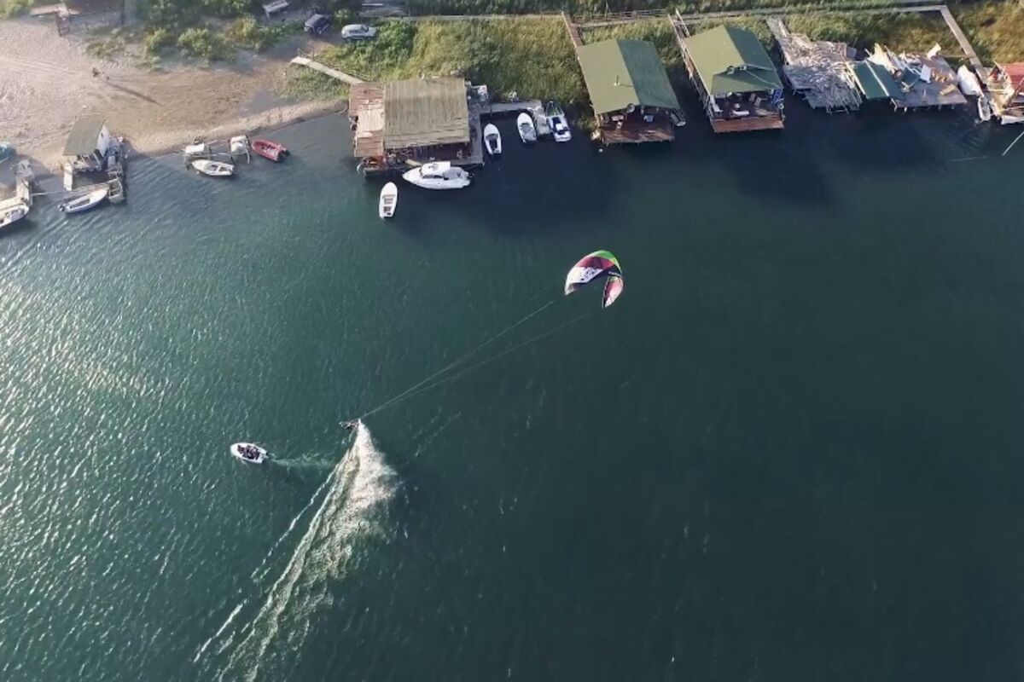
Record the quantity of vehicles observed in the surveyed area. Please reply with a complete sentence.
The picture shows 2 vehicles.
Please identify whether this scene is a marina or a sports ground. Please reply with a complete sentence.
It's a marina.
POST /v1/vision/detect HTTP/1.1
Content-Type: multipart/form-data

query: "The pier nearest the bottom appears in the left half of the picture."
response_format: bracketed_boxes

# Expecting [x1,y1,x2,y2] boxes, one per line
[13,176,32,205]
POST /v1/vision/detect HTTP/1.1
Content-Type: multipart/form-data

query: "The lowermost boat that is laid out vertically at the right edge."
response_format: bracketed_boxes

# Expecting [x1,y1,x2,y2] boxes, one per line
[977,94,990,124]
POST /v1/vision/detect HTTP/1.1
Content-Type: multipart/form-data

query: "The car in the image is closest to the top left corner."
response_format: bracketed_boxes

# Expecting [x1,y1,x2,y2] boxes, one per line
[303,5,333,33]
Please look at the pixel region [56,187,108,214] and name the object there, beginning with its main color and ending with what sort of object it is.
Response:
white boat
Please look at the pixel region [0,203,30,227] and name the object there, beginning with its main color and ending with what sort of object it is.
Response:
white boat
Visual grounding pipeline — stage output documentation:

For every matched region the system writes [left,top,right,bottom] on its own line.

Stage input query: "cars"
[340,20,377,40]
[303,5,333,33]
